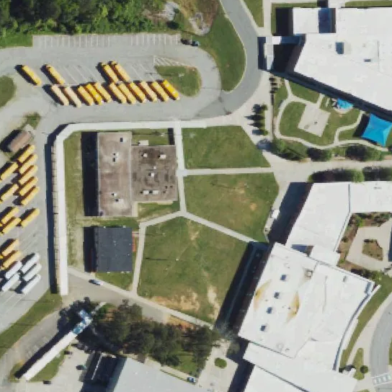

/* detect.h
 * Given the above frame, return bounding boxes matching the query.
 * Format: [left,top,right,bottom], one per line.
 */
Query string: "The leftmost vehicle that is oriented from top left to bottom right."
[19,65,41,86]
